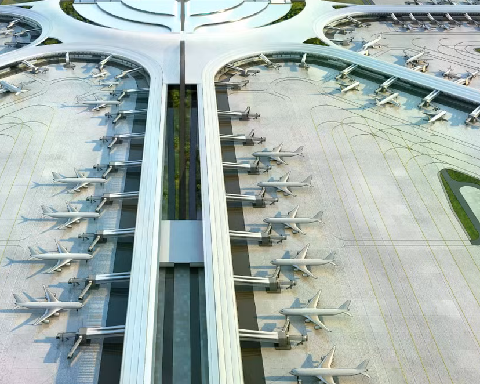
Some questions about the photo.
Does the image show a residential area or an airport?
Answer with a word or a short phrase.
airport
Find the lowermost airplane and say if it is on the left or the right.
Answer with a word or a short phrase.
right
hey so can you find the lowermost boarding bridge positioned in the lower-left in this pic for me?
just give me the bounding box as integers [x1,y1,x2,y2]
[54,327,127,362]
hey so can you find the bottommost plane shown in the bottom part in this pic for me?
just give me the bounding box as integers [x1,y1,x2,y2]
[290,340,374,384]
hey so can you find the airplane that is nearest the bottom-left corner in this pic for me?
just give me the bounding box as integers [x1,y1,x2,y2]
[11,280,84,326]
